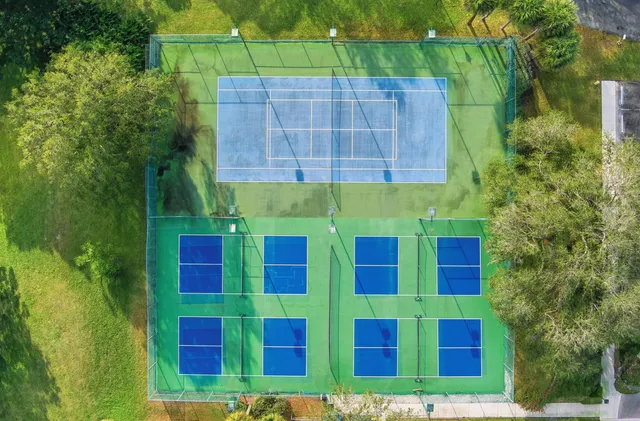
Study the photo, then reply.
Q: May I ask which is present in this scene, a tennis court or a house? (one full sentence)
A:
It is a tennis court that can be seen here.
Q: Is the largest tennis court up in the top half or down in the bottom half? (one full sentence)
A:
It is in the top half that the largest tennis court appears.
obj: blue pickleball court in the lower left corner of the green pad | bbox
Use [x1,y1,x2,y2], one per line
[178,317,308,375]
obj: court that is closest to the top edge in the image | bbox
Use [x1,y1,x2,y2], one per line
[156,41,508,217]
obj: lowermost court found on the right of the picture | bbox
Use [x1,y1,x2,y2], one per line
[353,318,482,377]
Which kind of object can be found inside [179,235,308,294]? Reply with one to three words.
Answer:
sports court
